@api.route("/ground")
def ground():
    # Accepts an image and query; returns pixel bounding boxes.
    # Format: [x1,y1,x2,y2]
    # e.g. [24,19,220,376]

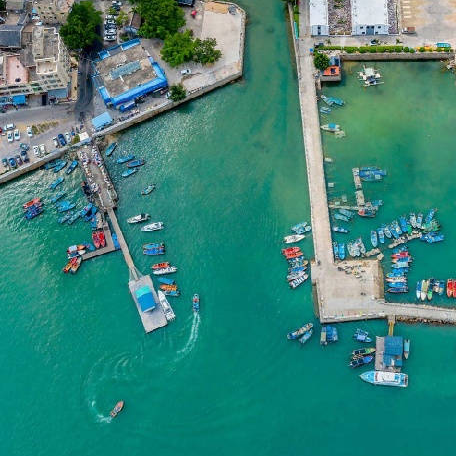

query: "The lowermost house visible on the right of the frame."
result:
[320,52,341,82]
